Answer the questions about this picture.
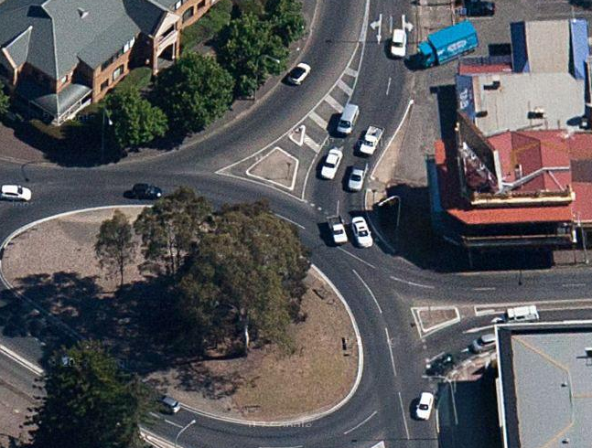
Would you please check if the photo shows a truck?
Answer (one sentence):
Yes, the image includes a truck.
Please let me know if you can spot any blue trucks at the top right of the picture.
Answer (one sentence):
Yes, I can see a blue truck at the top right of the picture.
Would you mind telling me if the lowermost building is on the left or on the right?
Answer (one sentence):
The lowermost building is on the right side of the image.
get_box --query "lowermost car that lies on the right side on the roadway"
[415,391,435,423]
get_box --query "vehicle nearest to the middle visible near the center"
[326,213,347,247]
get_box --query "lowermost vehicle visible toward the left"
[148,390,182,416]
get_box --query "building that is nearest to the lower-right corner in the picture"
[494,321,592,448]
